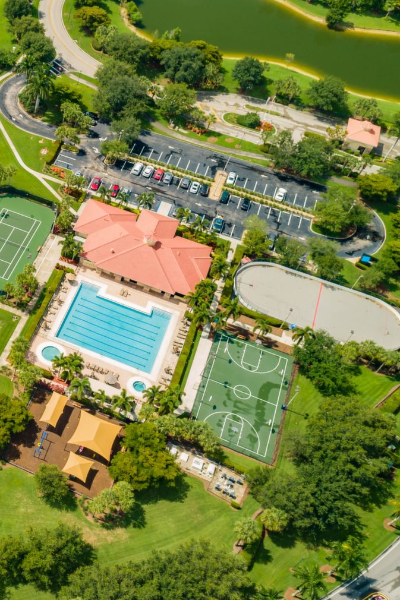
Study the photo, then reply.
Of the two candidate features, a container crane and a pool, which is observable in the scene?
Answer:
pool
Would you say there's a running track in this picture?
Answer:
No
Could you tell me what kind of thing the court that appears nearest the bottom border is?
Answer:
basketball court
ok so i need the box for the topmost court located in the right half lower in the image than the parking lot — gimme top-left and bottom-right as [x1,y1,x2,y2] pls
[235,261,400,354]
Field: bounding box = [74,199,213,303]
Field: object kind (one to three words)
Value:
building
